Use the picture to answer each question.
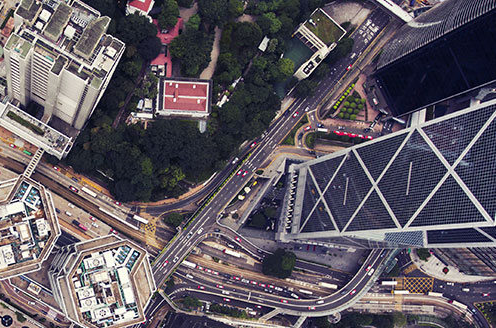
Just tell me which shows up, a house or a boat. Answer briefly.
house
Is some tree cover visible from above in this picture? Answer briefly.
Yes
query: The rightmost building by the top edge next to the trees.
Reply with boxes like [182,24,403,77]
[376,0,496,116]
